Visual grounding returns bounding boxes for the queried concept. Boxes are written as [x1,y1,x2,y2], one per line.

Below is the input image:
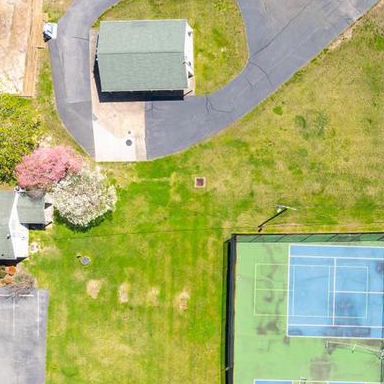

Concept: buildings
[0,188,56,262]
[97,20,198,95]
